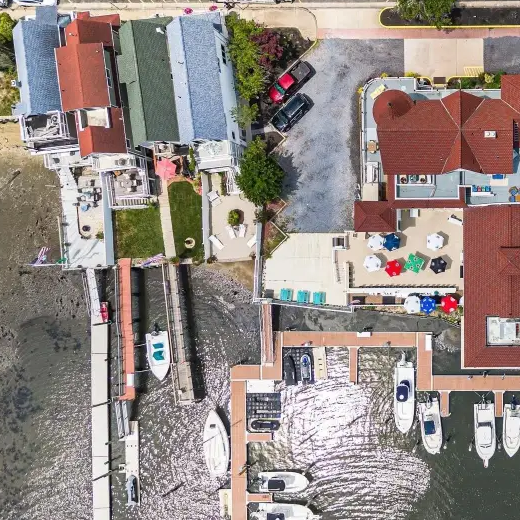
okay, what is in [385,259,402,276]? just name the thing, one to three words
umbrella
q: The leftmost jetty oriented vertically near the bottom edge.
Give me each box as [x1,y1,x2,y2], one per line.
[91,322,112,520]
